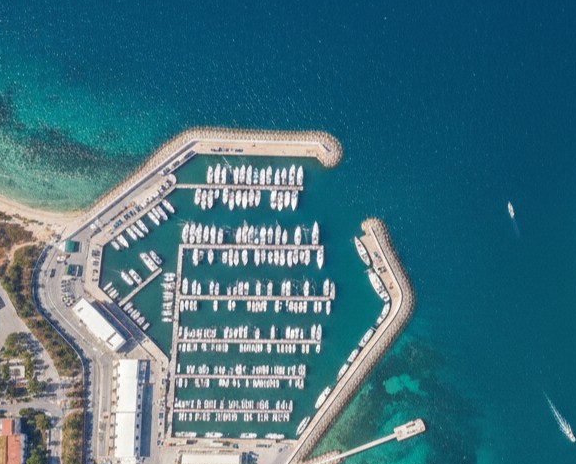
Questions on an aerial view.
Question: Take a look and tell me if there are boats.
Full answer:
Yes, a boat is visible in the scene.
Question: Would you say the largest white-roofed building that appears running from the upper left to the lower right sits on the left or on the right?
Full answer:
The largest white-roofed building that appears running from the upper left to the lower right appears in the left half of the scene.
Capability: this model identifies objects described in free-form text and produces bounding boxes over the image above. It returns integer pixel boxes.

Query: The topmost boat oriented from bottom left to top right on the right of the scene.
[375,304,390,325]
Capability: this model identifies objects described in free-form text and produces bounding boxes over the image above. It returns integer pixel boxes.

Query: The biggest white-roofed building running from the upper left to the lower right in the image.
[73,298,124,346]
